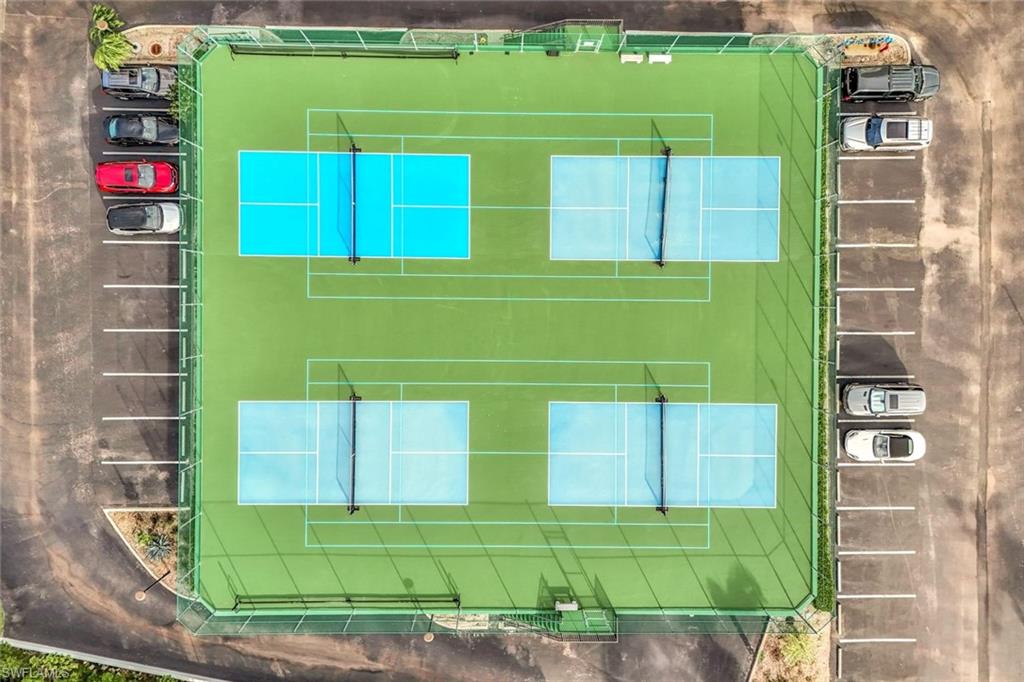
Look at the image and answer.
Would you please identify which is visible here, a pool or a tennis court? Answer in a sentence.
Looking from above, you can make out a tennis court.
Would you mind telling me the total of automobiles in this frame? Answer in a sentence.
My tally gives 8 automobiles in this view.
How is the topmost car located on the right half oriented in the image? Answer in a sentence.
The topmost car located on the right half has been laid out horizontally relative to the frame.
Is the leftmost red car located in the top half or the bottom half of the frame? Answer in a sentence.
You can find the leftmost red car in the top half.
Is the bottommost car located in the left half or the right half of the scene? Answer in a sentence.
It is on the right.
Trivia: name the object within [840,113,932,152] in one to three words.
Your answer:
car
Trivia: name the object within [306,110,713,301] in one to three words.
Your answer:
tennis court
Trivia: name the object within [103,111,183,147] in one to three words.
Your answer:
car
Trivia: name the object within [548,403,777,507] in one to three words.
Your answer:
sports court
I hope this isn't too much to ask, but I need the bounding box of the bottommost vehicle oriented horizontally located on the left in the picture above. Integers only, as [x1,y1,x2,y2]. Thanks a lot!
[104,201,186,237]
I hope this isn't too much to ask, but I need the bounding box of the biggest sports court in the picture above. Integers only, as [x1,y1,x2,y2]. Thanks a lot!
[193,41,824,619]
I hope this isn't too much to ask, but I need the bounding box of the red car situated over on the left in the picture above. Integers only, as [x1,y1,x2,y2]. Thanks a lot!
[97,158,183,195]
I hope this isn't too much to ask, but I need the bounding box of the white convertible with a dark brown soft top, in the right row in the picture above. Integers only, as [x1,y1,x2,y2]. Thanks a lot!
[843,429,925,466]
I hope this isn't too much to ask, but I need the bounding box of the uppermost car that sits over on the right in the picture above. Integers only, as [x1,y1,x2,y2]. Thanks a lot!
[839,63,937,104]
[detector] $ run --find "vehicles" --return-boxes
[840,113,932,152]
[103,111,183,147]
[97,158,183,195]
[100,62,183,101]
[843,429,925,466]
[841,384,927,420]
[104,201,186,237]
[839,63,937,104]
